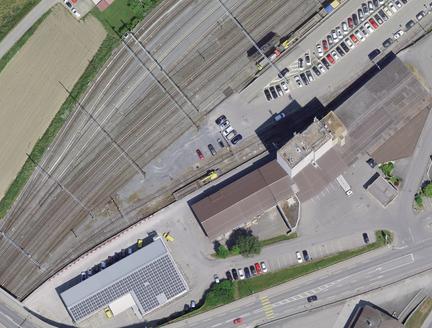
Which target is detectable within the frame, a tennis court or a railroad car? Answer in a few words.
railroad car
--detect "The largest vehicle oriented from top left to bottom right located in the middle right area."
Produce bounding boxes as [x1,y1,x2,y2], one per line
[334,174,354,196]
